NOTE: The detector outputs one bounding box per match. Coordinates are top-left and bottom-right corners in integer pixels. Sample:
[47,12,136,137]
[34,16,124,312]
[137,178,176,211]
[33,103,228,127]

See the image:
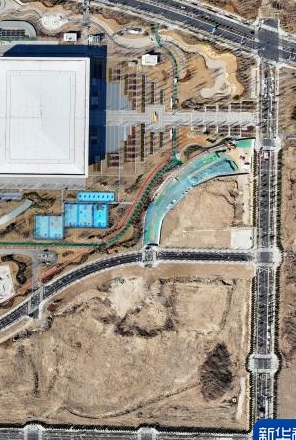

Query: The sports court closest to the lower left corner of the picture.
[33,214,65,240]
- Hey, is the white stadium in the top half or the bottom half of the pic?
top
